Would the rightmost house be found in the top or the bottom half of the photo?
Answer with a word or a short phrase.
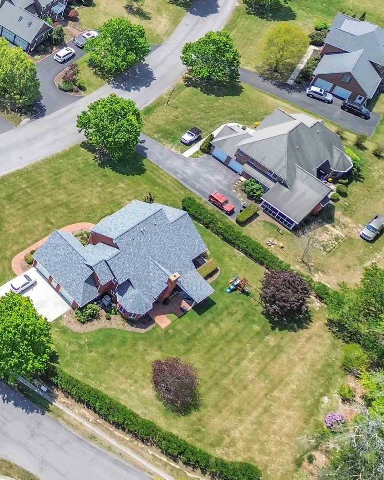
top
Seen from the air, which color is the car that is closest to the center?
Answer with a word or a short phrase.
red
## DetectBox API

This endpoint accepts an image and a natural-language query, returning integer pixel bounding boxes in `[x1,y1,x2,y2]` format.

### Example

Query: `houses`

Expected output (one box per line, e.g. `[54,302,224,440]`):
[308,11,384,108]
[33,199,215,322]
[0,0,71,51]
[210,95,358,231]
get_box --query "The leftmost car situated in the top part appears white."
[52,47,77,62]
